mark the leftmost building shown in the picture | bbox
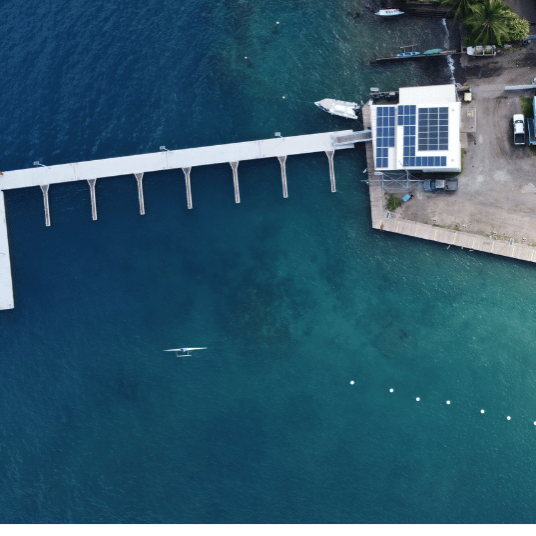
[372,85,462,176]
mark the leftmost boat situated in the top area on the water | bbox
[314,100,360,119]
